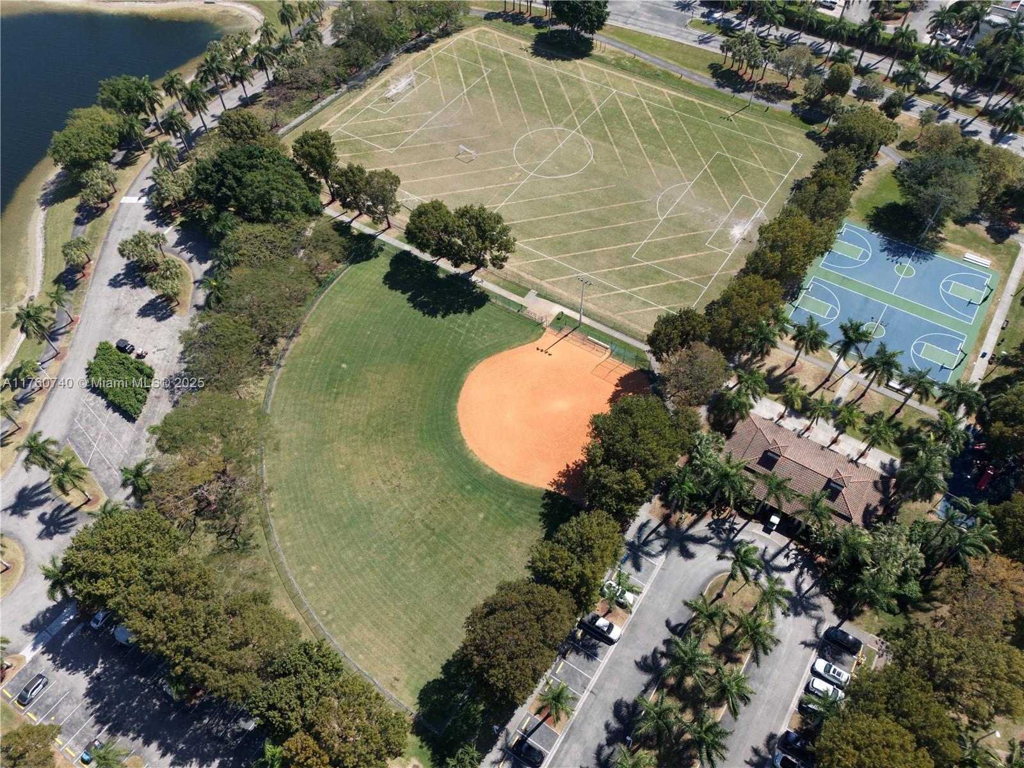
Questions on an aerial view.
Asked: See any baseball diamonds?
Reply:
Yes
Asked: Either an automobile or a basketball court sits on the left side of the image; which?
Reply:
automobile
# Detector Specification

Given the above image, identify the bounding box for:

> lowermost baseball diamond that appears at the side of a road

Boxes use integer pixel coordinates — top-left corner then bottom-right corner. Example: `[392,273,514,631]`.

[260,253,655,731]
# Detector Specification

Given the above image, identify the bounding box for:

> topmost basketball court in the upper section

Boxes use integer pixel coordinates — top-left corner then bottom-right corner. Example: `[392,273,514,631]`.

[821,224,991,323]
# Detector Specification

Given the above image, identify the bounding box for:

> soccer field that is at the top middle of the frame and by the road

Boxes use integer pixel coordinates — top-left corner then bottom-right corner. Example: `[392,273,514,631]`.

[280,21,825,343]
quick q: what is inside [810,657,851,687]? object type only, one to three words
car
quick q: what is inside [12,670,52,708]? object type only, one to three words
car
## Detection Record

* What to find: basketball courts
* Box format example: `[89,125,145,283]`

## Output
[821,224,991,323]
[788,276,968,386]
